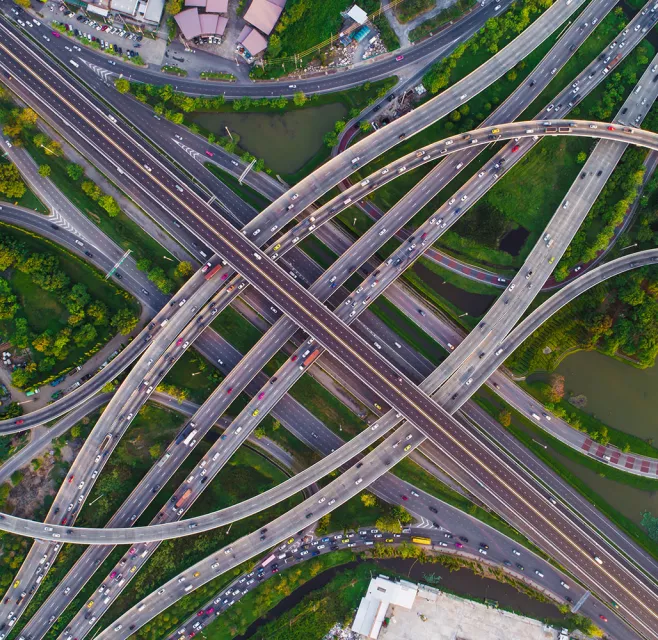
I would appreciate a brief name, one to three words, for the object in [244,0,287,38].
house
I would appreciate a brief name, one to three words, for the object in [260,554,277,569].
vehicle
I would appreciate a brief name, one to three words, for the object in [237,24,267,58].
house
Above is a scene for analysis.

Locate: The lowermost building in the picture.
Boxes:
[351,572,418,640]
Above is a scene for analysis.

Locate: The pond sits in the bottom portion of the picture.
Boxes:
[526,351,658,447]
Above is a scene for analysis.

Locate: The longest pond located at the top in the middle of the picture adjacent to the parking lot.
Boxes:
[190,100,348,174]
